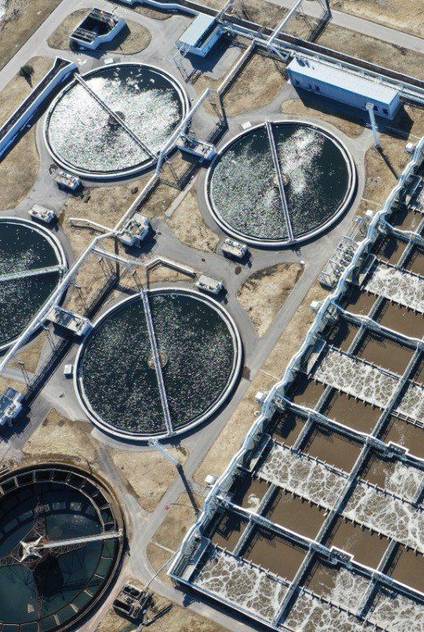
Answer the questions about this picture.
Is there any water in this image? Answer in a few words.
Yes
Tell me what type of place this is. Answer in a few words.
industrial area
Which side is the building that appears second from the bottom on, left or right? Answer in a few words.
right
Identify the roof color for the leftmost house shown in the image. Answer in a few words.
white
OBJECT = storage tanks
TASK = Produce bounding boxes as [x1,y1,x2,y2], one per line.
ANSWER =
[0,216,71,355]
[206,117,357,249]
[74,286,244,444]
[0,465,131,632]
[42,61,192,181]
